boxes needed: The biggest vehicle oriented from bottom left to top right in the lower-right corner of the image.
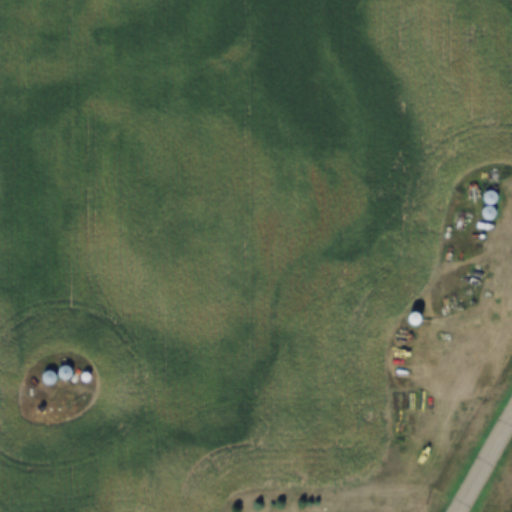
[418,448,432,464]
